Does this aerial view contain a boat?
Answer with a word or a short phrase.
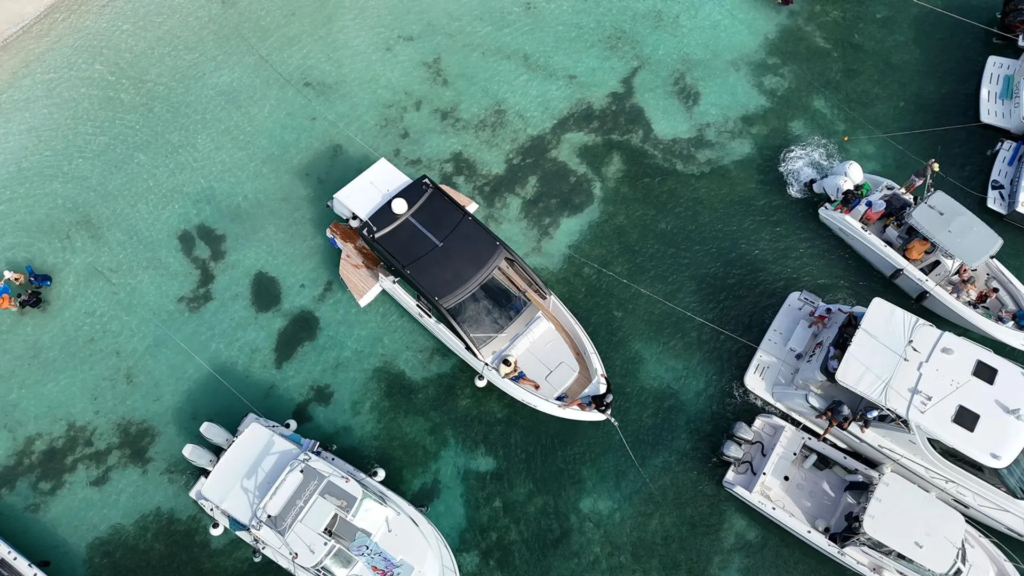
Yes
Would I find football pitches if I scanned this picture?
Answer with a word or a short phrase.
No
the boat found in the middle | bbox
[328,157,621,432]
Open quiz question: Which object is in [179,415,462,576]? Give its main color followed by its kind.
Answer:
white boat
